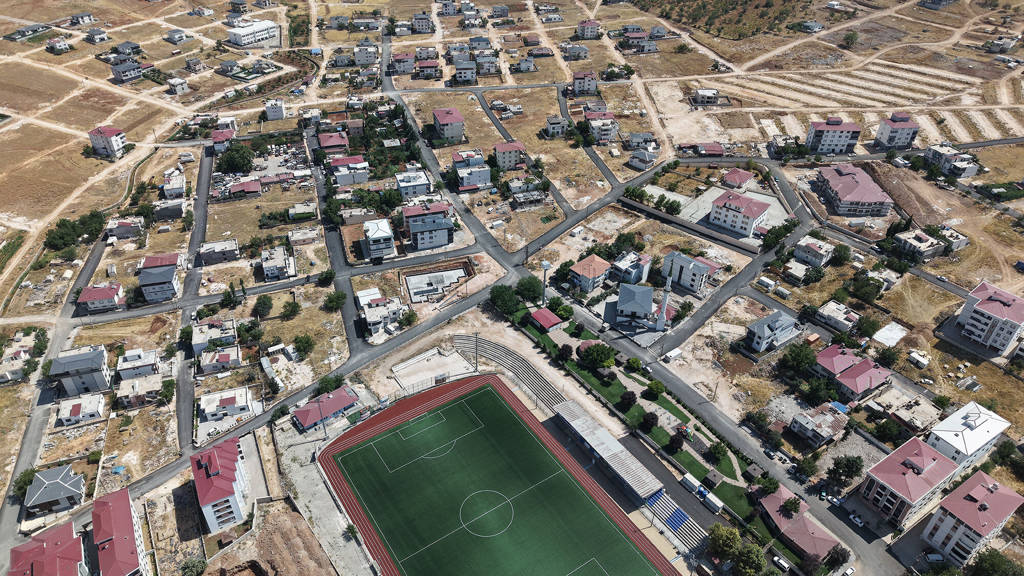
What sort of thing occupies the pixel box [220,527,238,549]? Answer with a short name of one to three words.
gazebo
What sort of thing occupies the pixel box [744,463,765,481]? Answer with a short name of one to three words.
gazebo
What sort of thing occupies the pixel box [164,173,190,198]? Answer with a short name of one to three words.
house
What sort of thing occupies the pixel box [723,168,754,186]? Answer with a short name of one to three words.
building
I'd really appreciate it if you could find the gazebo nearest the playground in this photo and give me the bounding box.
[704,469,725,488]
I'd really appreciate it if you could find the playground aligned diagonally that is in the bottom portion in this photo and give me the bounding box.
[671,424,714,462]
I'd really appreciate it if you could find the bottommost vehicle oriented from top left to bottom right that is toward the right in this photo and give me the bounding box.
[772,555,790,572]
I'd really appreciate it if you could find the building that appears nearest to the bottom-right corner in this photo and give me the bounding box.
[923,471,1024,564]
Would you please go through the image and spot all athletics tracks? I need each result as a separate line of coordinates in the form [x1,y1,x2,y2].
[317,375,686,576]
